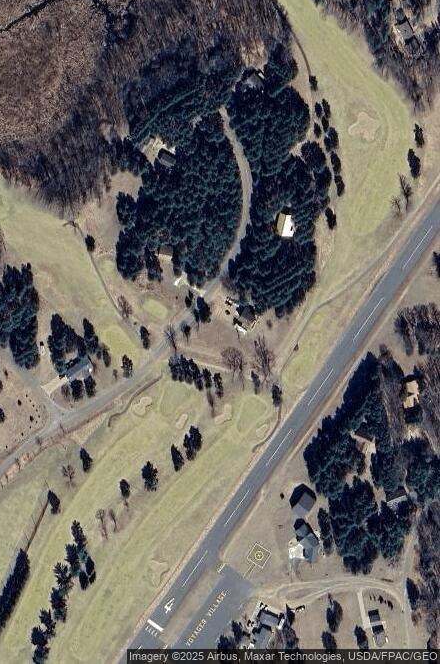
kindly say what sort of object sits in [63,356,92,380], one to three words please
house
